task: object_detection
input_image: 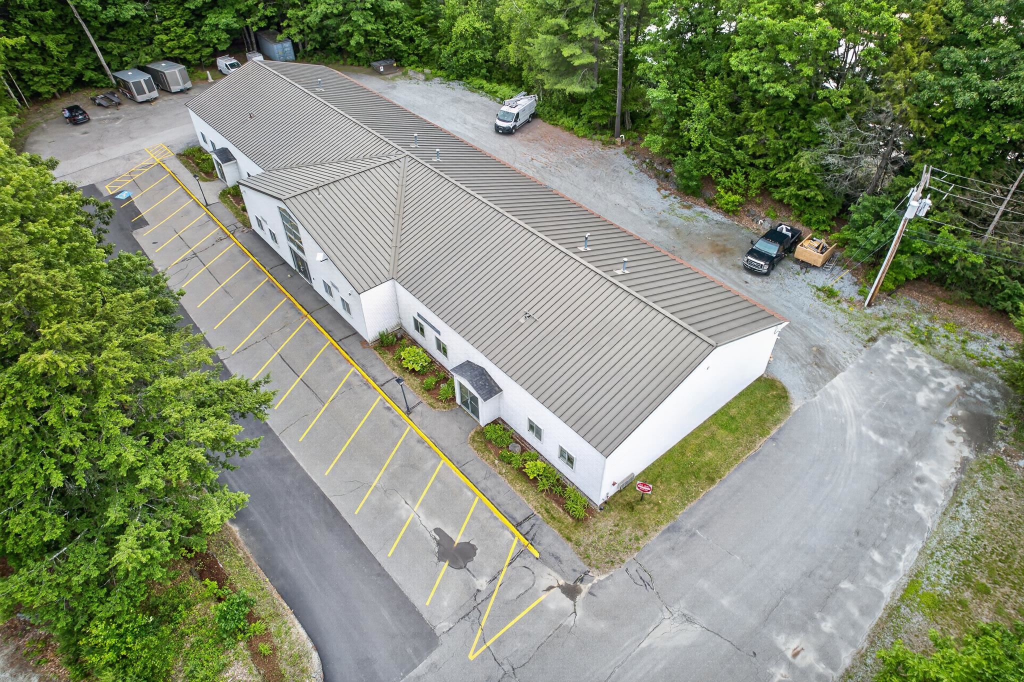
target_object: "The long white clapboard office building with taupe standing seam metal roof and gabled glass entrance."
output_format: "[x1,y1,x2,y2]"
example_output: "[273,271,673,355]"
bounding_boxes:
[184,57,792,507]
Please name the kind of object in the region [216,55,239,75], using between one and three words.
vehicle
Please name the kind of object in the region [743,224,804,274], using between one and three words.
truck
